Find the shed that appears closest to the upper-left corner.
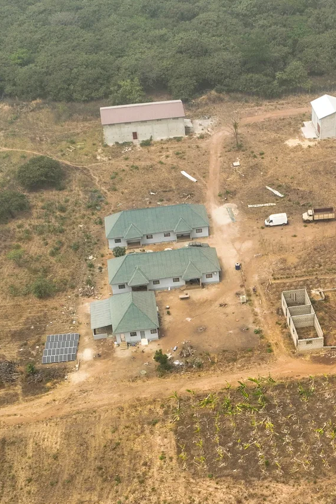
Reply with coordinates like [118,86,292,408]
[100,99,194,144]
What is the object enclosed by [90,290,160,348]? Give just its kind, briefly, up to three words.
building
